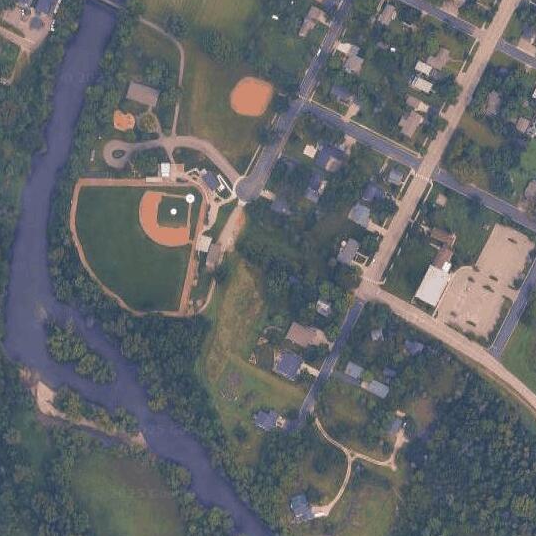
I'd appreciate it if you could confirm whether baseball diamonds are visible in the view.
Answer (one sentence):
Yes, looking at the shot, I can spot a baseball diamond.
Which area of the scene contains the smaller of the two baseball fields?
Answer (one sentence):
The smaller of the two baseball fields appears toward the top of the photo.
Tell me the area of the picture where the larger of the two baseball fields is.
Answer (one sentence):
Look in the left portion of the view to spot the larger of the two baseball fields.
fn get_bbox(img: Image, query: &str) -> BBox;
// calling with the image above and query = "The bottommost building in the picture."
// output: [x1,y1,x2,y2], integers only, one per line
[290,495,312,522]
